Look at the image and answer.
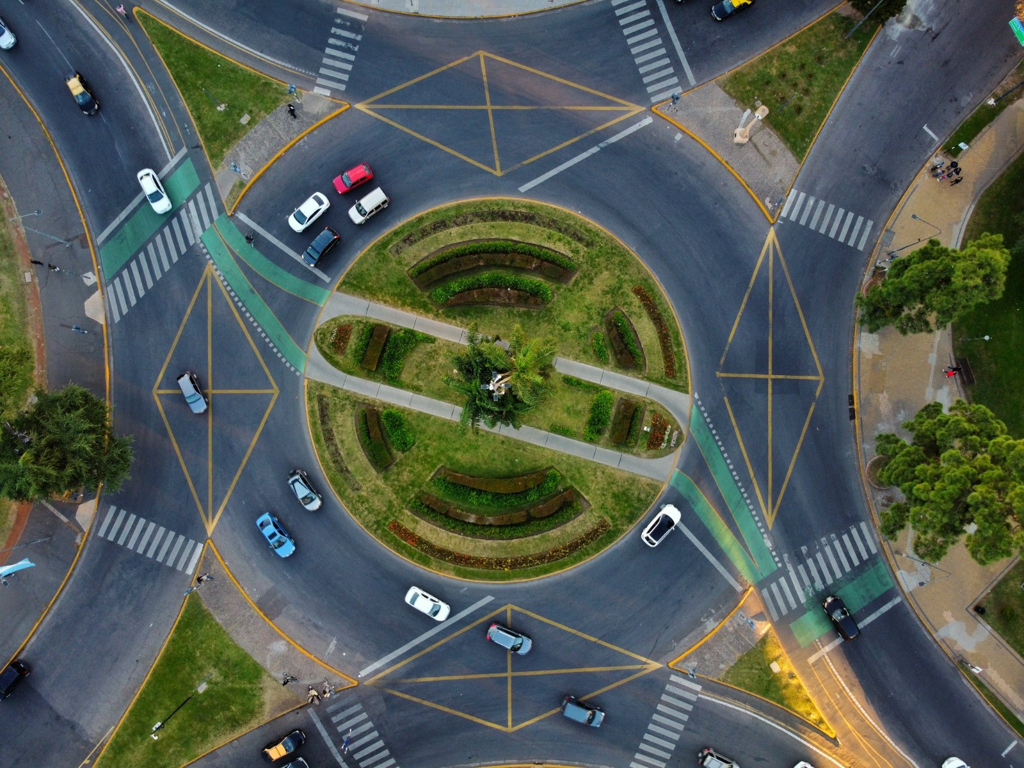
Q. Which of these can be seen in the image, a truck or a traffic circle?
traffic circle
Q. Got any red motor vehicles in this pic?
Yes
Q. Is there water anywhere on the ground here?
No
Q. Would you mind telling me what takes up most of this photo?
paved ground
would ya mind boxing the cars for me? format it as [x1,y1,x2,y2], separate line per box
[287,189,332,235]
[273,752,314,768]
[347,184,392,224]
[820,592,861,645]
[330,161,376,196]
[0,8,21,51]
[135,165,175,216]
[402,585,451,621]
[261,725,311,764]
[0,659,31,701]
[710,0,759,25]
[255,510,296,558]
[484,621,532,655]
[65,69,104,119]
[301,223,342,269]
[284,467,324,512]
[174,368,211,415]
[641,502,681,551]
[560,694,604,727]
[698,742,745,768]
[940,750,968,768]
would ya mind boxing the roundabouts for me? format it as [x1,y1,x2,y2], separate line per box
[303,195,692,584]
